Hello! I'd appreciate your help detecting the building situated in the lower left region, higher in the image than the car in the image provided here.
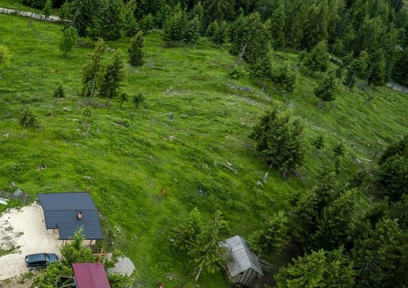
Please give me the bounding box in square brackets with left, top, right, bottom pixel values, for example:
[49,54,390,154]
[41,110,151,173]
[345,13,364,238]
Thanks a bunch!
[34,193,103,252]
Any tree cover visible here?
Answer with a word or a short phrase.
Yes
